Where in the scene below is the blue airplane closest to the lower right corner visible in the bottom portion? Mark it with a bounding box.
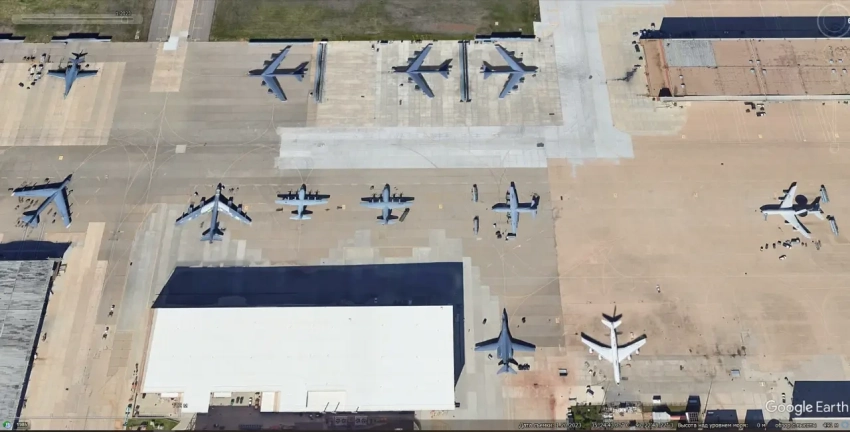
[475,309,537,372]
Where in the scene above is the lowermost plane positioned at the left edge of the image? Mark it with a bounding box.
[12,175,76,230]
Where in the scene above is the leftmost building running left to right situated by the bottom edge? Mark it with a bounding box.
[144,306,455,412]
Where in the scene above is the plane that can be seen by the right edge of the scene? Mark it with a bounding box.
[760,189,828,243]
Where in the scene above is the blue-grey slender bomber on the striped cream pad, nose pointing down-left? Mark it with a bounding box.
[48,51,100,100]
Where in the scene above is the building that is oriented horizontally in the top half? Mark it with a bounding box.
[657,38,850,101]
